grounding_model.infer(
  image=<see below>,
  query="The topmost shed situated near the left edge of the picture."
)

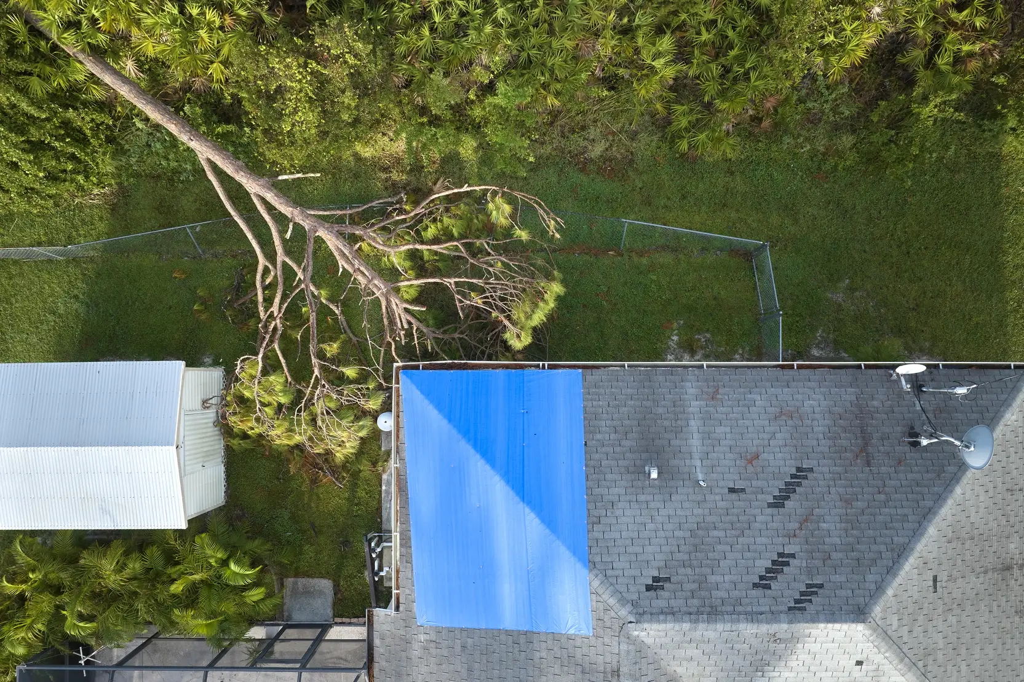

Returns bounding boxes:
[0,361,227,531]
